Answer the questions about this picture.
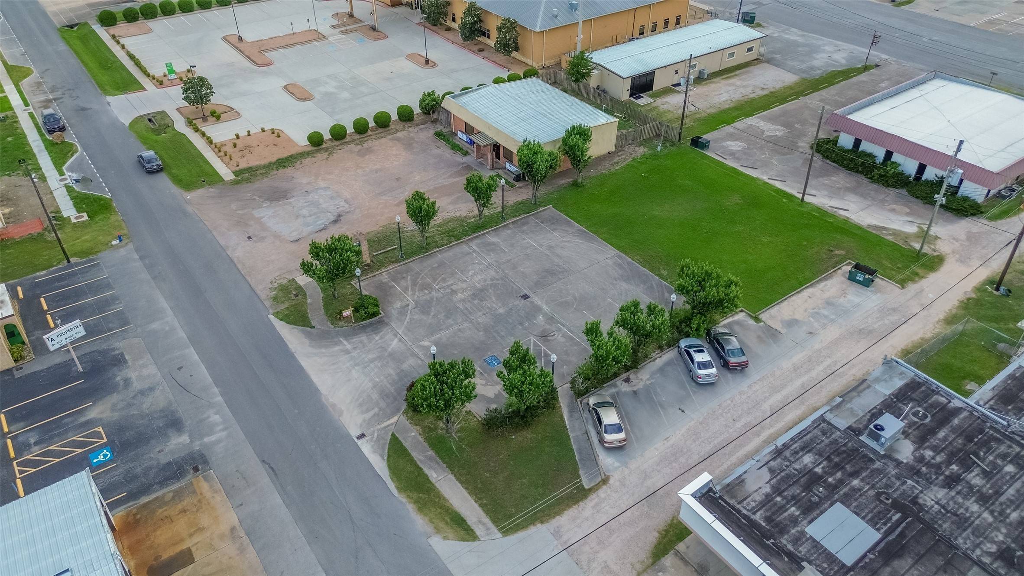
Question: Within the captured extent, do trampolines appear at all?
No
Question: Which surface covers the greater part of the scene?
paved ground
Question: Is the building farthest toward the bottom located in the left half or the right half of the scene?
left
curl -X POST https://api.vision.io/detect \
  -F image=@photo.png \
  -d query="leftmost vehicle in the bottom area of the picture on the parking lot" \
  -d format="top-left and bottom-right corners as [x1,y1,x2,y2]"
[591,398,630,453]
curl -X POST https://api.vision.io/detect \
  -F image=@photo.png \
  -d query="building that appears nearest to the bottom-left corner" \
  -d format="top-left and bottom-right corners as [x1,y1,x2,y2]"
[0,470,131,576]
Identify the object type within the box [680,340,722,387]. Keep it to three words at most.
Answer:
car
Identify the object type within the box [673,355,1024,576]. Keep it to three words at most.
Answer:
building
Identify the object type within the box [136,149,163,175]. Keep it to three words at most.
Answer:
car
